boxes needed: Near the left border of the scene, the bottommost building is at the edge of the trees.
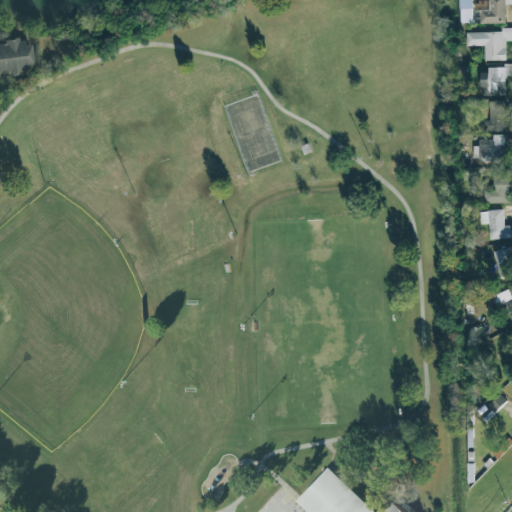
[0,36,34,75]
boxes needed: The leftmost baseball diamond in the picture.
[0,189,143,450]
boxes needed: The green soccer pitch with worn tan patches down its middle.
[248,218,394,427]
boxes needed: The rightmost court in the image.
[226,96,280,171]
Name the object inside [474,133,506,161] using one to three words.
house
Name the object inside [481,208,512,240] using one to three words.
house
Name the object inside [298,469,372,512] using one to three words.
building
